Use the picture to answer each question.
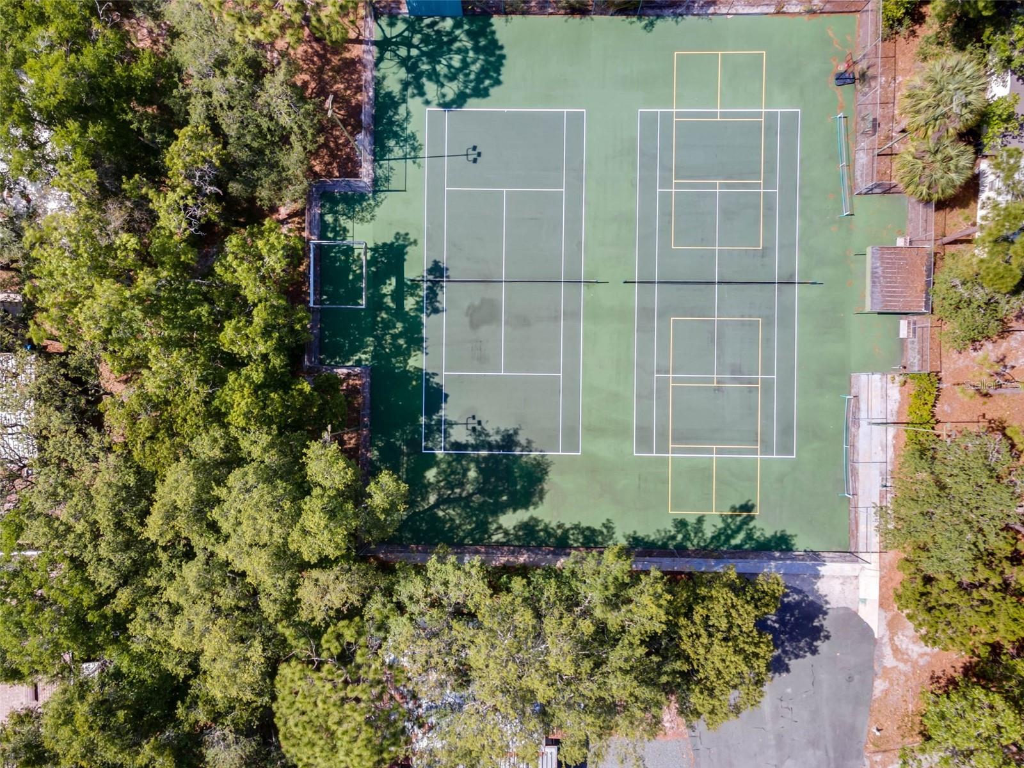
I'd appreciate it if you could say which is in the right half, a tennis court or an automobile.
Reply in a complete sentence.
You can see a tennis court in the right half.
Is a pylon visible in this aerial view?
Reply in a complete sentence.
No, the photo shows no pylon.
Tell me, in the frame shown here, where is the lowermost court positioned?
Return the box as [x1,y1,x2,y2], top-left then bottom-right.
[669,318,762,514]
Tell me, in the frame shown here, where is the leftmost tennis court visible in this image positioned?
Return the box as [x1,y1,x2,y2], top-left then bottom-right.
[422,109,586,455]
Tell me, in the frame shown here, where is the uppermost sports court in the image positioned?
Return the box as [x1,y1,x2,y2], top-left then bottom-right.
[672,51,765,248]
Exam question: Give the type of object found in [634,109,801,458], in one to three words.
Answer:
tennis court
